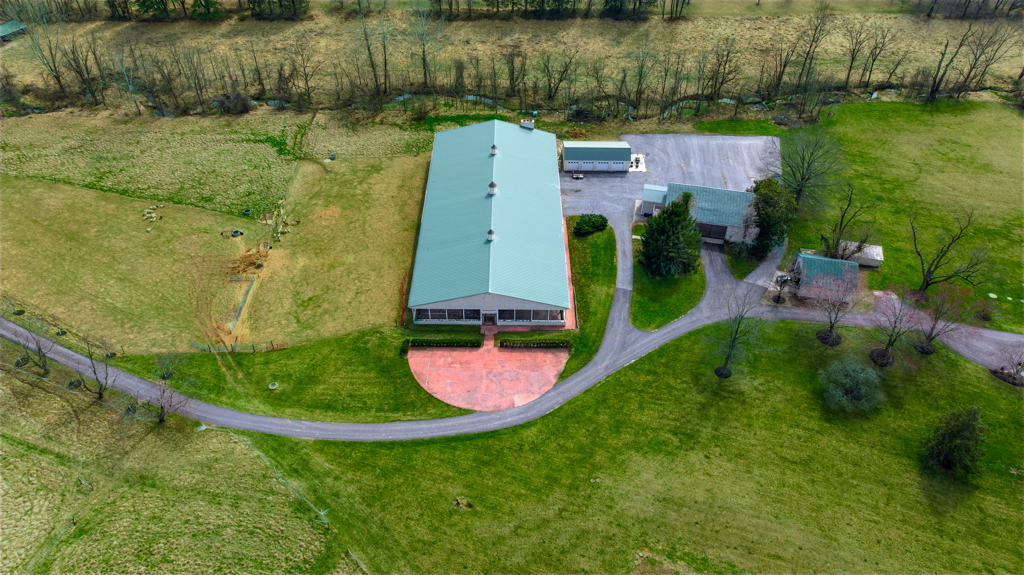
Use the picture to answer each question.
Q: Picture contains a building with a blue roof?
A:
Yes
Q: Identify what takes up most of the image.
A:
grass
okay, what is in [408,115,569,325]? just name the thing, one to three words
barn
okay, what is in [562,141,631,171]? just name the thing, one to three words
building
